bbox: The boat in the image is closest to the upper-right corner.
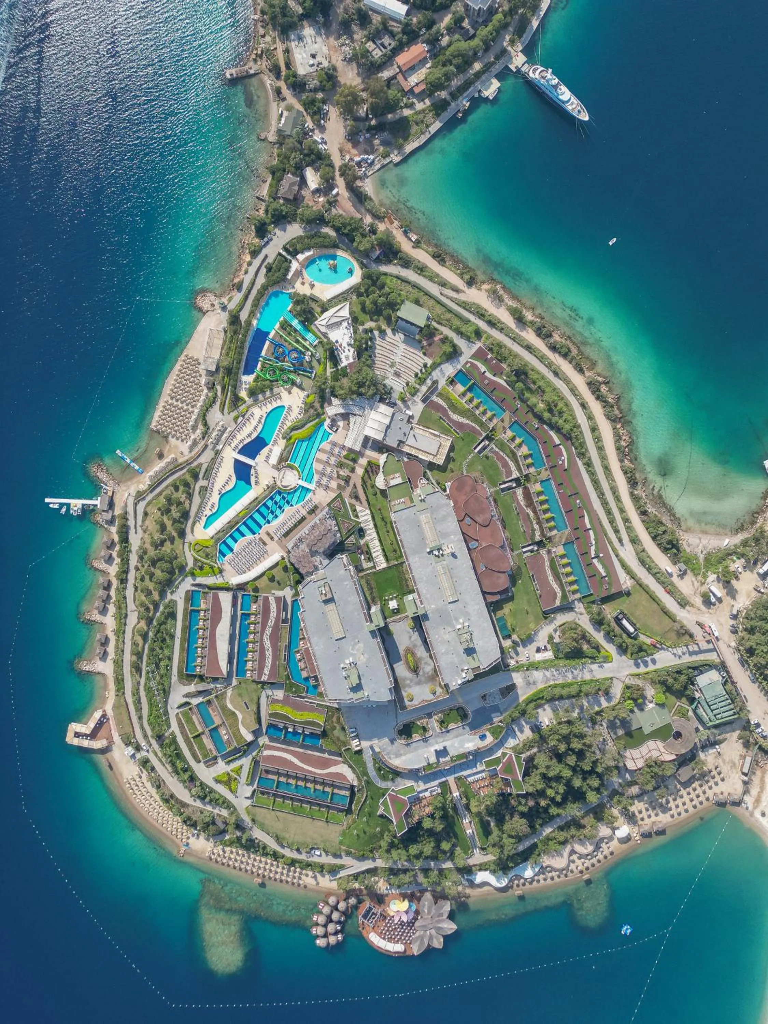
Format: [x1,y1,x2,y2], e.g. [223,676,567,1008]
[511,65,589,123]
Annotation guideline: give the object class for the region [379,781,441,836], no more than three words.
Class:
building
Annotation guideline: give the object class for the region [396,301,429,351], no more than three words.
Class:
house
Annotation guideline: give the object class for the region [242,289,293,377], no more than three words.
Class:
swimming pool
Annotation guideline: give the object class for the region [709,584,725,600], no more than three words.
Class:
vehicle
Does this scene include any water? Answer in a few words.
Yes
